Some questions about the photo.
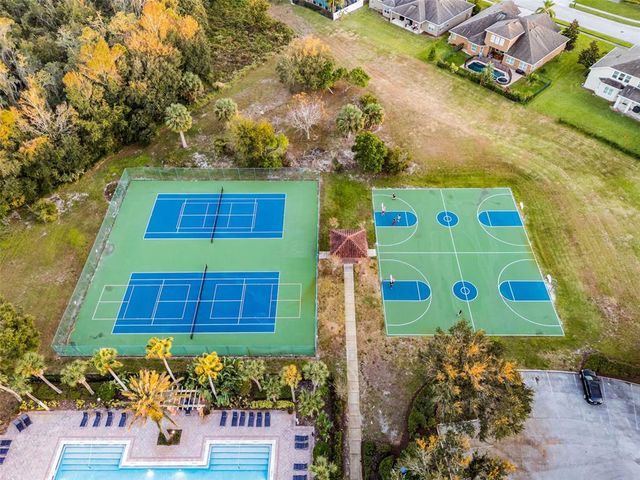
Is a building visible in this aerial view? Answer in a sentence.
Yes, a building can be made out from above.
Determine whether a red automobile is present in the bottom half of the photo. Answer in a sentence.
No, there is no red automobile in the bottom half of the photo.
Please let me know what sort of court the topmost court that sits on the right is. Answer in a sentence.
The topmost court that sits on the right is a basketball court.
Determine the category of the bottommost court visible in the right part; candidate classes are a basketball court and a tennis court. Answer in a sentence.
From above, the bottommost court visible in the right part can be identified as a basketball court.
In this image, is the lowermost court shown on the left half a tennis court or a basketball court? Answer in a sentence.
The lowermost court shown on the left half is a tennis court.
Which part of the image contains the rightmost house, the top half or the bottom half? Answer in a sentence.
It is in the top half that the rightmost house appears.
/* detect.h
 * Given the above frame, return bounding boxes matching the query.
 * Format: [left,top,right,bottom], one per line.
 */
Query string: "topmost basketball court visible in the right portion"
[372,188,534,252]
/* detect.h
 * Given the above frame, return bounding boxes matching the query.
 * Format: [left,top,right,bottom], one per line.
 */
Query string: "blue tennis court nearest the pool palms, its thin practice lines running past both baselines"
[62,254,318,356]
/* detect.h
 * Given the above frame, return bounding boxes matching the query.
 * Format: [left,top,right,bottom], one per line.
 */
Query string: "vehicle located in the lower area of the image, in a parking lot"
[581,367,609,402]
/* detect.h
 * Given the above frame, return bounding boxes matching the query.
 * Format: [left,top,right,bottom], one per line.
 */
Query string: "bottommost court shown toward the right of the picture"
[378,252,565,336]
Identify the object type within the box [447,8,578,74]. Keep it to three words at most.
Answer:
house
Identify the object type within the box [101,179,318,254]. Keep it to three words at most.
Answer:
tennis court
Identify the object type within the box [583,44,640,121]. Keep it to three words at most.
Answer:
house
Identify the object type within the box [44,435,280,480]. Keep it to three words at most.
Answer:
swimming pool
